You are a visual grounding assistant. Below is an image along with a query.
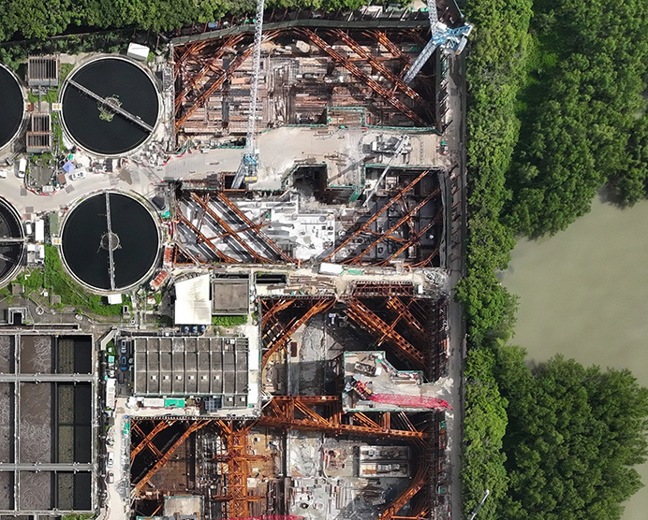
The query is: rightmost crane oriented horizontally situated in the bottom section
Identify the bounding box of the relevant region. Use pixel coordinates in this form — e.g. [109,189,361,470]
[345,370,455,410]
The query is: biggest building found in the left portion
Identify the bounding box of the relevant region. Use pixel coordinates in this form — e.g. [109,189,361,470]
[131,336,249,398]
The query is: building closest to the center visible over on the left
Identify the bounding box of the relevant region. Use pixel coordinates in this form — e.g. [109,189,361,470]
[210,279,249,317]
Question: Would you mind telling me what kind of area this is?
industrial area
